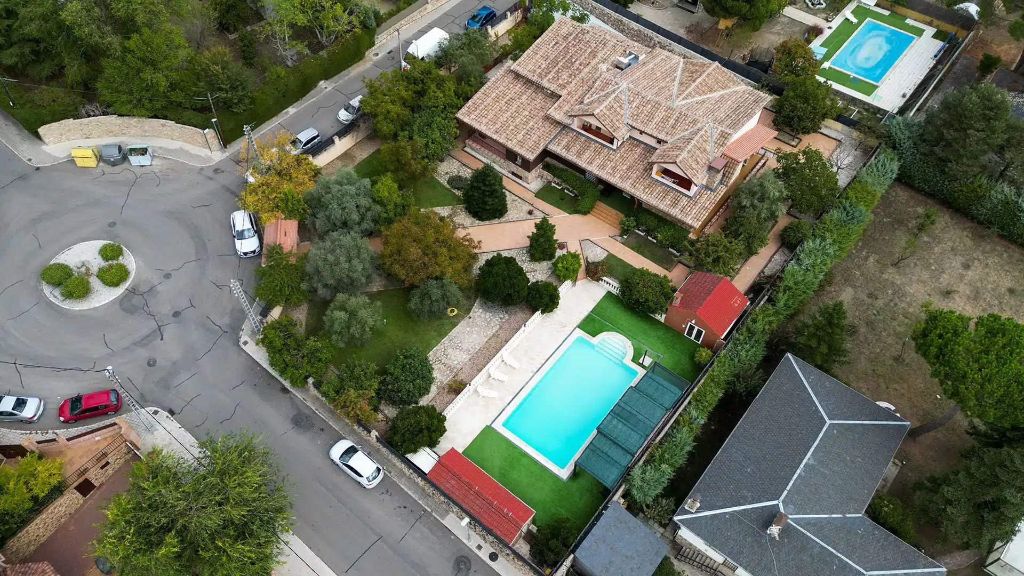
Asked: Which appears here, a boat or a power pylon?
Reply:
power pylon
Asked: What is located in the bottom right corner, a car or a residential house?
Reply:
residential house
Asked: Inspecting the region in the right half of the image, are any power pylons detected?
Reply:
No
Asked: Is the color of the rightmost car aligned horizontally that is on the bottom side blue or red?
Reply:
red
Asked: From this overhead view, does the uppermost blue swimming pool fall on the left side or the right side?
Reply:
right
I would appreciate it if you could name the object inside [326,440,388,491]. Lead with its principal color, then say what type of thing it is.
white car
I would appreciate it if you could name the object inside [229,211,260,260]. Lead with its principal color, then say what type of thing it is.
white car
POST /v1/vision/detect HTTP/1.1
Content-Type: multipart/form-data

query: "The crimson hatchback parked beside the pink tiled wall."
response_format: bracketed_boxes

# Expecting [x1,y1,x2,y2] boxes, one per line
[59,389,122,422]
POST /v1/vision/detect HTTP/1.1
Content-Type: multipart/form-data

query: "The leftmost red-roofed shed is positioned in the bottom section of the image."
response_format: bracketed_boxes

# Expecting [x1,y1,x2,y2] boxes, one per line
[426,447,537,545]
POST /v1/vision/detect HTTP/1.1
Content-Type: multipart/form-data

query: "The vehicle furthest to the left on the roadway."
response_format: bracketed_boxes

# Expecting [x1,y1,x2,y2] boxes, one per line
[0,389,47,424]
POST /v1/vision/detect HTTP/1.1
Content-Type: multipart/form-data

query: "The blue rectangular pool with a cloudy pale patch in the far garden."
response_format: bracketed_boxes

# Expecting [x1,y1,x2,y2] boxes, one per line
[827,13,919,86]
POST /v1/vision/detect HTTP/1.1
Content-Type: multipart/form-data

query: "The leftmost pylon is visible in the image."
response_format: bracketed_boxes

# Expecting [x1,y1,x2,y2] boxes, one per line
[94,366,157,434]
